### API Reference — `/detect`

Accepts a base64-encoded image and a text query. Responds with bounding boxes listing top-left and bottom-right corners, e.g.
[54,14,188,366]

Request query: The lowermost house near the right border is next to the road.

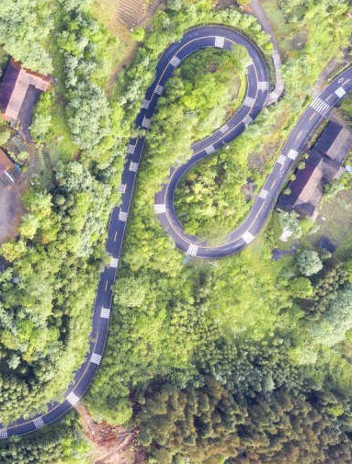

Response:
[281,148,344,219]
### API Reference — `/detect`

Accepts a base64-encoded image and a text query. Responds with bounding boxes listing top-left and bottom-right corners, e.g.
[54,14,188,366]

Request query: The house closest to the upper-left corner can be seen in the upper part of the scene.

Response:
[0,63,55,123]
